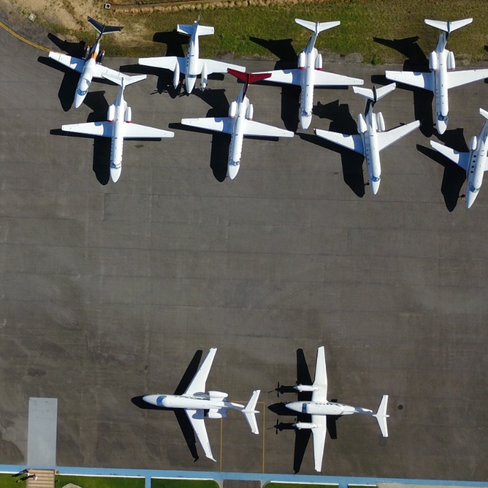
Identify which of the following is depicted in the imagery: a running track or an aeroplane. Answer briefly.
aeroplane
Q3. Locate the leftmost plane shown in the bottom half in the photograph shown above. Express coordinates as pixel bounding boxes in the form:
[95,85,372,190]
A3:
[143,349,262,463]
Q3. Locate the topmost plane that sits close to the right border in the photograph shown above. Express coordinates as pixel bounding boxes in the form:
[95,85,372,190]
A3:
[386,17,488,134]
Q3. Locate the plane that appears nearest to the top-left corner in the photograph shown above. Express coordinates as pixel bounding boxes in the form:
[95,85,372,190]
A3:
[48,16,129,107]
